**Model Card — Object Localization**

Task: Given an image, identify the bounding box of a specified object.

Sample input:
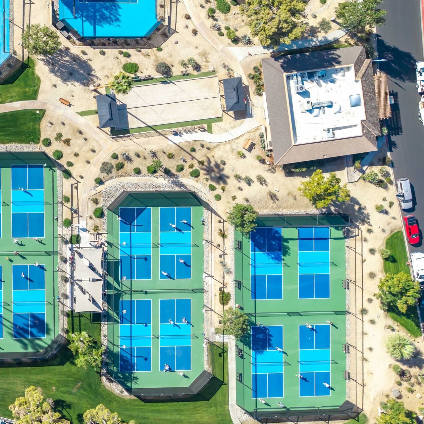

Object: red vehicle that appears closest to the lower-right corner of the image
[402,214,423,243]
